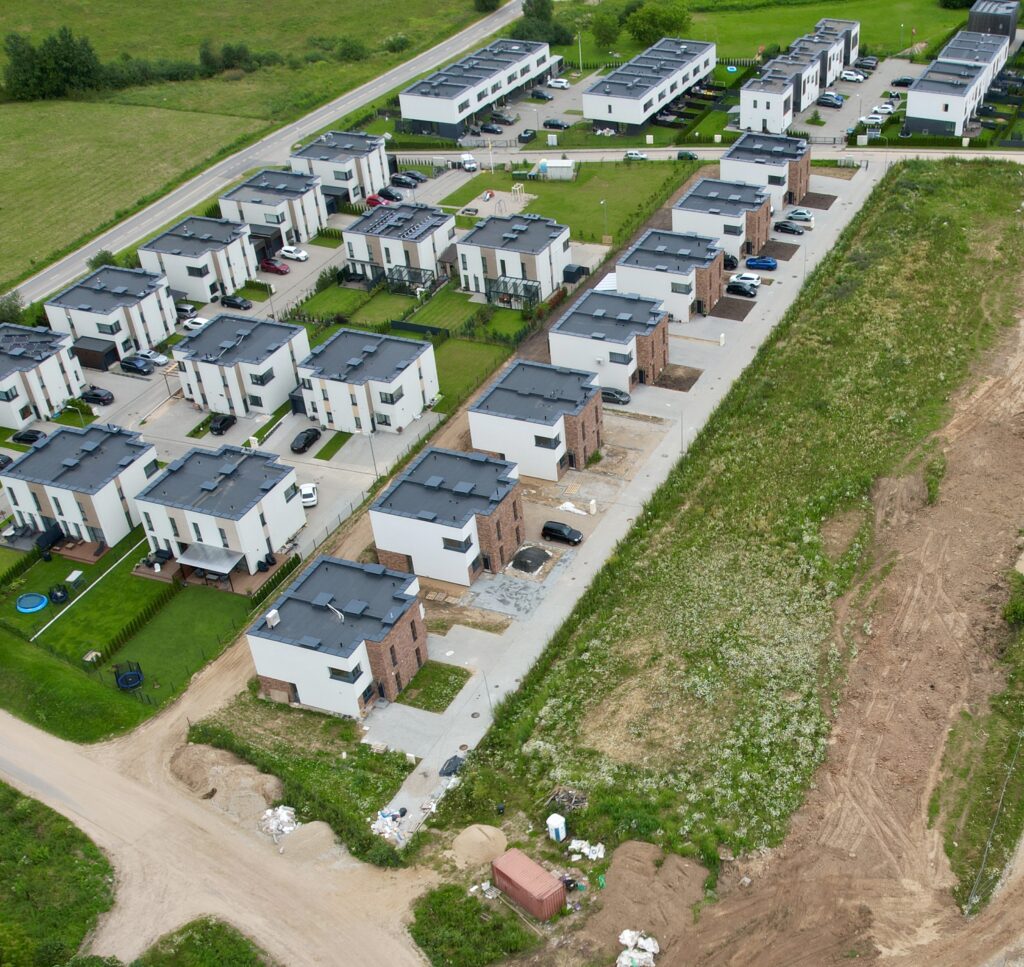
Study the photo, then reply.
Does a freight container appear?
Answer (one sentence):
Yes, I can see a freight container in this picture.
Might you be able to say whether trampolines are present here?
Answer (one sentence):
Yes, there's a trampoline here.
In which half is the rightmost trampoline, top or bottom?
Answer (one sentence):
The rightmost trampoline sits in the bottom half of the picture.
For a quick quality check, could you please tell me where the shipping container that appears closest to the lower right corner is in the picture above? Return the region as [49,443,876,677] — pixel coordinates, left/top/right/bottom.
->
[492,846,566,922]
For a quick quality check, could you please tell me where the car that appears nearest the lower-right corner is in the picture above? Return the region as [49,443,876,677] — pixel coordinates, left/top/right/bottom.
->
[540,520,583,546]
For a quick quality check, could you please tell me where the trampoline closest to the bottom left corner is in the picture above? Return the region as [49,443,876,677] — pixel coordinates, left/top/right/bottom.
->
[108,656,143,693]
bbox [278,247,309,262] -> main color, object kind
white car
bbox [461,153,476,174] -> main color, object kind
white vehicle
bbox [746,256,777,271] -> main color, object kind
blue car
